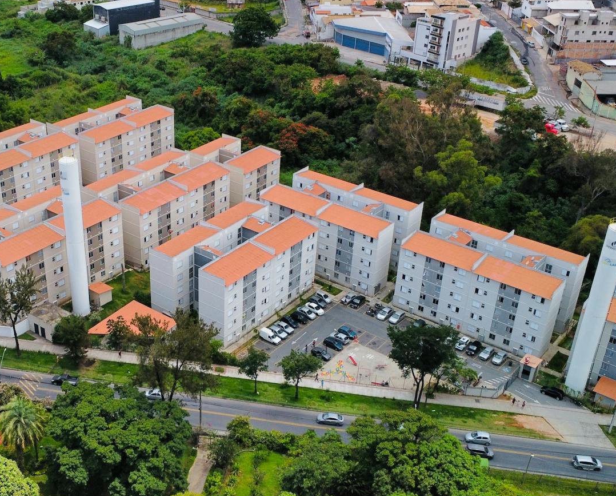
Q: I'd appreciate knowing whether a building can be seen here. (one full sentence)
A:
Yes, there's a building down there.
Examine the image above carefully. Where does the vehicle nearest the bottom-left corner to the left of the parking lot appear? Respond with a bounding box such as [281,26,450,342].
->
[51,373,80,388]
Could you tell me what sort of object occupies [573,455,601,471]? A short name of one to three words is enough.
car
